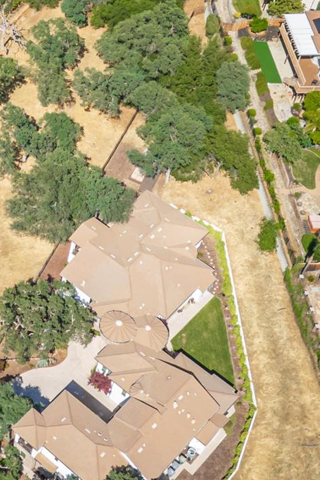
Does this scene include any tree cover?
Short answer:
Yes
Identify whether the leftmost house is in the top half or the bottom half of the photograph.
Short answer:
bottom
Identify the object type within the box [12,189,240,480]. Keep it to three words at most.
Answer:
house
